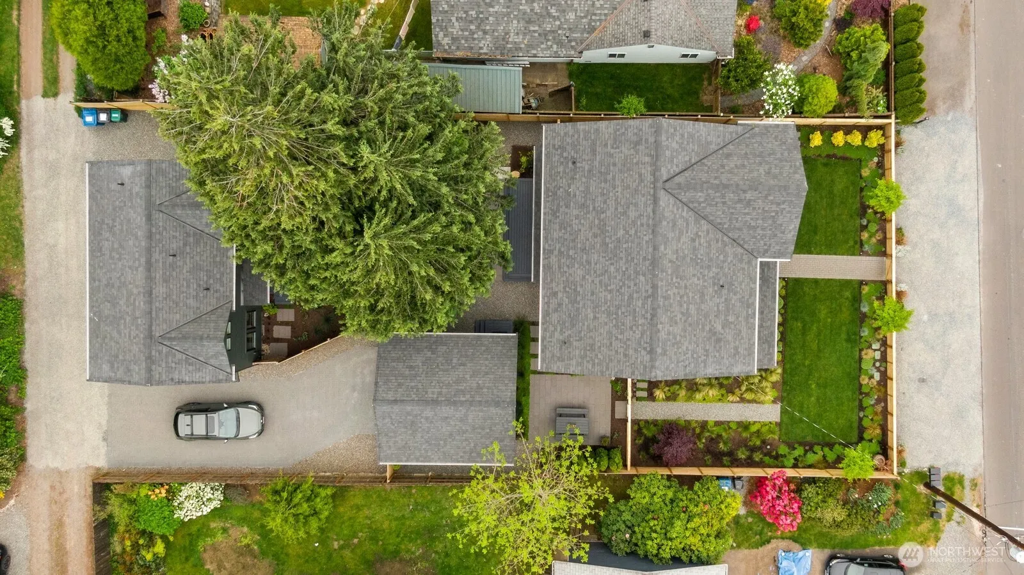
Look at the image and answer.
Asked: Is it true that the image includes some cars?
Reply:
Yes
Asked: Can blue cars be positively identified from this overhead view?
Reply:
No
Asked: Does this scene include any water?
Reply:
No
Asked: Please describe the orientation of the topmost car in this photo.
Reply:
from left to right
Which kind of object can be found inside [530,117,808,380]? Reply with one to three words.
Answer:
house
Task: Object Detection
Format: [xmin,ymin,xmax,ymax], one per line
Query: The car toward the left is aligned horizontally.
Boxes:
[175,400,266,443]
